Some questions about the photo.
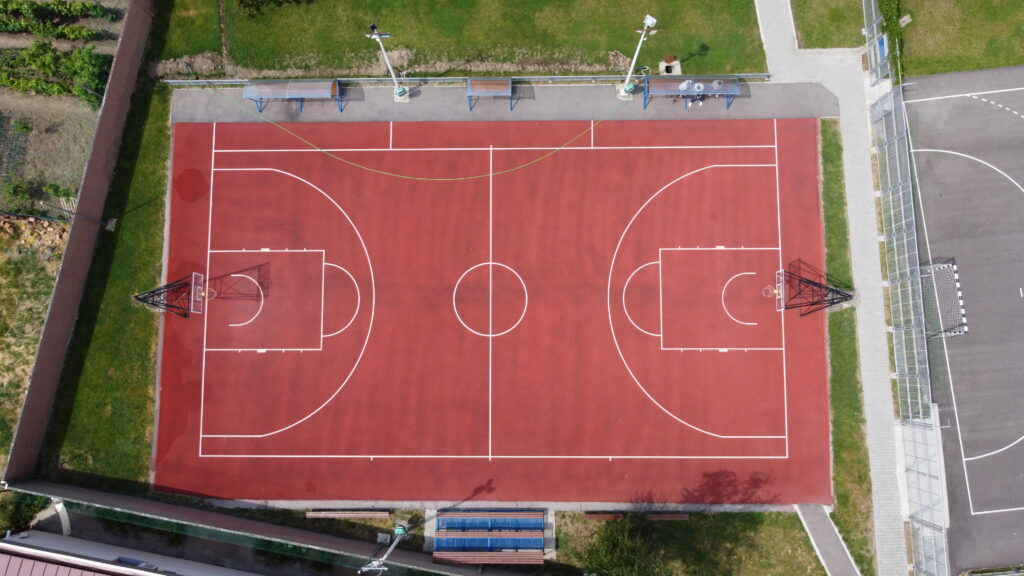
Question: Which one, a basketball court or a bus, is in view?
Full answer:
There is a basketball court in the scene.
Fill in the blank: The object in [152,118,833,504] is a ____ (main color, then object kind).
red basketball court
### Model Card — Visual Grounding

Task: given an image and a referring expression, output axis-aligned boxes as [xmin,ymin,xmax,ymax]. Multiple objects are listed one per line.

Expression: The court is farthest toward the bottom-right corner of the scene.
[874,66,1024,576]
